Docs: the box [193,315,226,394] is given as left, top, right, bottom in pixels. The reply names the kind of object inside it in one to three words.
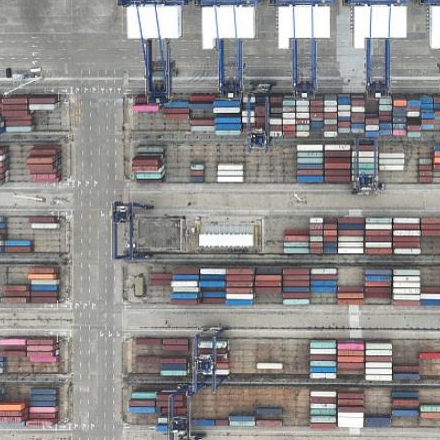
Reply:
container crane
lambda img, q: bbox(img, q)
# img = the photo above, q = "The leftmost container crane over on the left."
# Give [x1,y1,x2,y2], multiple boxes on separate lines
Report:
[111,188,148,261]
